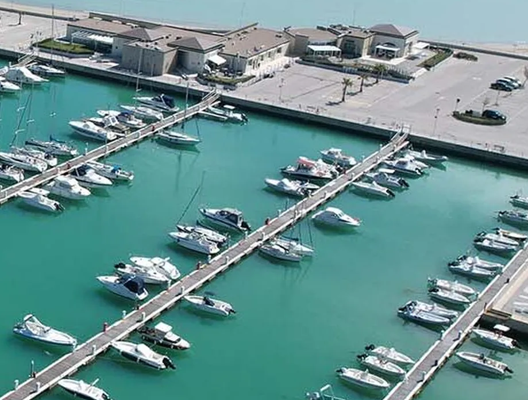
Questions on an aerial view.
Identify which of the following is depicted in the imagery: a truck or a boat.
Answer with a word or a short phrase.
boat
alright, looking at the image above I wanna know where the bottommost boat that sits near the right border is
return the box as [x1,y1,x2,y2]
[458,353,518,377]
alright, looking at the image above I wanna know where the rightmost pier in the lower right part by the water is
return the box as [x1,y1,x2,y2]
[485,270,528,340]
